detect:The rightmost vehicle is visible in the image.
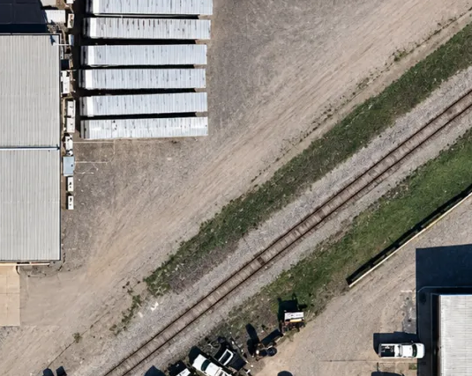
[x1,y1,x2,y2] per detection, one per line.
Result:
[378,341,422,361]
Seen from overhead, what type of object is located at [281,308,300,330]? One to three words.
vehicle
